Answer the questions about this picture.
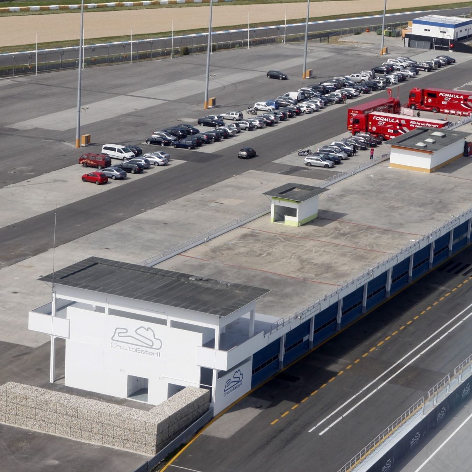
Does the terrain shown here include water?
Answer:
No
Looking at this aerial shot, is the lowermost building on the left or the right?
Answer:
left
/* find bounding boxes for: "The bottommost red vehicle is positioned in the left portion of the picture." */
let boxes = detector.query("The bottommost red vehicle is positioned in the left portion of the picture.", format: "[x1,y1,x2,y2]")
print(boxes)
[79,172,111,186]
